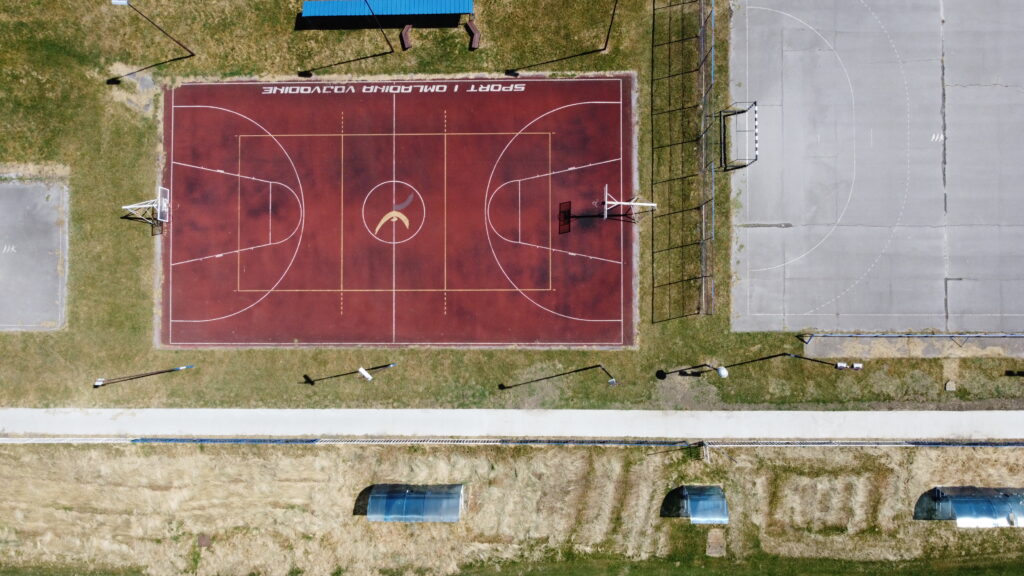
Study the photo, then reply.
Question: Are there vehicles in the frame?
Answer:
No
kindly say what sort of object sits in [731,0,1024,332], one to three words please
sports court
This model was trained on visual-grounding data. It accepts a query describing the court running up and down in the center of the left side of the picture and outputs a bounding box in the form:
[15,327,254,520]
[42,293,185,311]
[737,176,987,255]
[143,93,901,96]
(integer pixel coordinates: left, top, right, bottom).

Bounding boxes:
[0,175,69,331]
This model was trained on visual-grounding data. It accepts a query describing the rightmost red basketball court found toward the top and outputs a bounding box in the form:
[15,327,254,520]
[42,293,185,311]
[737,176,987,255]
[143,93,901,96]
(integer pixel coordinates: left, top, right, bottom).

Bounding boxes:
[155,77,637,349]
